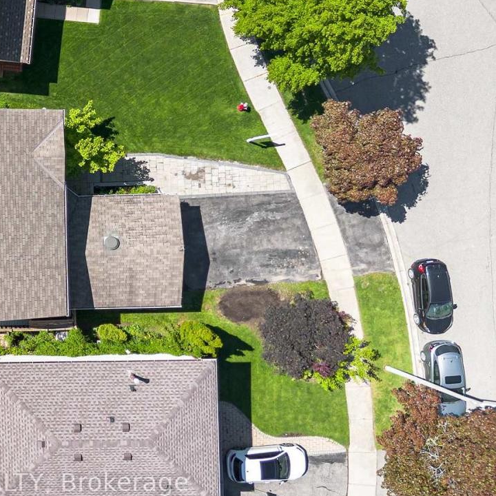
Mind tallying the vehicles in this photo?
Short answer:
3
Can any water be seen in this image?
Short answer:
No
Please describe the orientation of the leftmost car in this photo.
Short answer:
from side to side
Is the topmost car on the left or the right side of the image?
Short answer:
right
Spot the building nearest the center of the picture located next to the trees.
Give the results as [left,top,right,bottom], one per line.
[69,186,185,311]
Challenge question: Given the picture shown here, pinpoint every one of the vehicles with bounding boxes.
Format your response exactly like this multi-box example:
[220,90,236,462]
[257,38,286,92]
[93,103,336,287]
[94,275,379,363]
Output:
[231,444,311,485]
[419,341,467,419]
[407,259,456,335]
